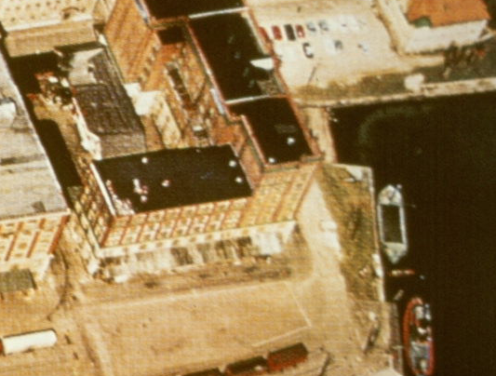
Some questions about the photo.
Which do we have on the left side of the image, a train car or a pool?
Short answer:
train car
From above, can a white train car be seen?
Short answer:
Yes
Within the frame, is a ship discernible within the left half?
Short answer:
No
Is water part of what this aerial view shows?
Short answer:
Yes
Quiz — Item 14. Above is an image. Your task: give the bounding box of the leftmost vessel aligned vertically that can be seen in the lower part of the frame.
[375,184,407,269]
